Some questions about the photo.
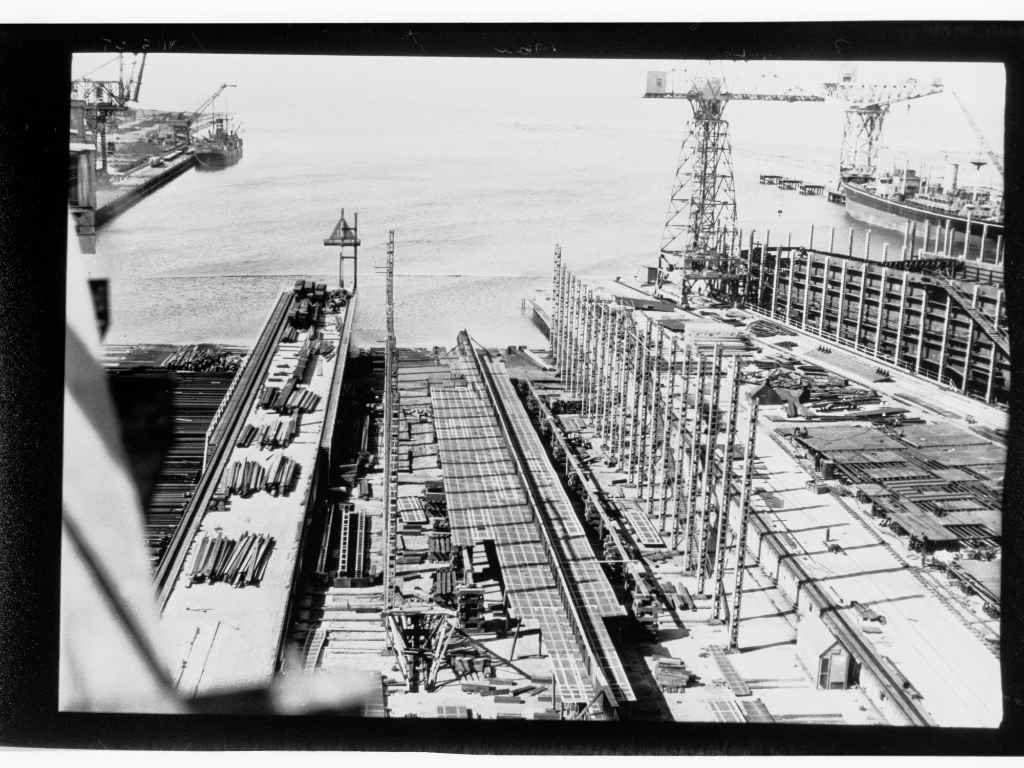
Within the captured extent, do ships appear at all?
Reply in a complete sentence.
Yes, the image includes a ship.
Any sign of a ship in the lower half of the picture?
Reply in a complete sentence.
No, there's no ship to be seen in the lower half of the picture.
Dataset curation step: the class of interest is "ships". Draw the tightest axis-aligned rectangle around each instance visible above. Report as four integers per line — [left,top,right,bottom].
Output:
[194,107,236,167]
[846,153,1024,253]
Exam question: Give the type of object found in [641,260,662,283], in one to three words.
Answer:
shed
